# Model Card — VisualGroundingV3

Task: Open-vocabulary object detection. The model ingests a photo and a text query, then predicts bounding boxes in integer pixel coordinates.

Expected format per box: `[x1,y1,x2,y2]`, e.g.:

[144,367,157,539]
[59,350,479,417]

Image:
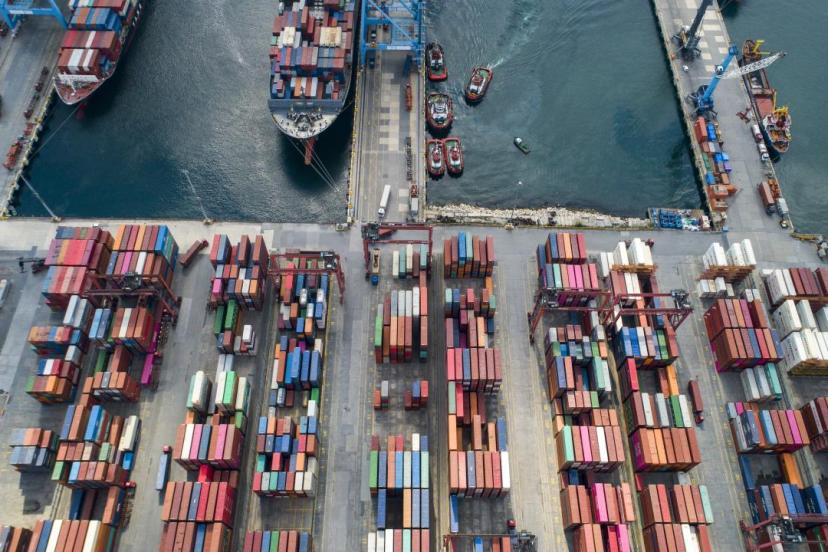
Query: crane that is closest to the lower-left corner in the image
[82,272,180,326]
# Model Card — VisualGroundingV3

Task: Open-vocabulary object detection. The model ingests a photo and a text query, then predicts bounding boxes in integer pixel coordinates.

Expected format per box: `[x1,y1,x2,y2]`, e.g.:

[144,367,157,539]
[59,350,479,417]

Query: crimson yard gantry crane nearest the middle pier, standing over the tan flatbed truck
[361,222,437,276]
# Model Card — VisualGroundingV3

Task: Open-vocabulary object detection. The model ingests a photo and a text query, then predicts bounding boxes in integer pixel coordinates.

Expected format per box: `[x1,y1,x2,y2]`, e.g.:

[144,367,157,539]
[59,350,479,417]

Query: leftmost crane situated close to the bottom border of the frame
[440,526,537,552]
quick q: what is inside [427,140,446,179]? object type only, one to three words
boat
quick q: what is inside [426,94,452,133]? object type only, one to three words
boat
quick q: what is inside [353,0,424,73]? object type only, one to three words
container crane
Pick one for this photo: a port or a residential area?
port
